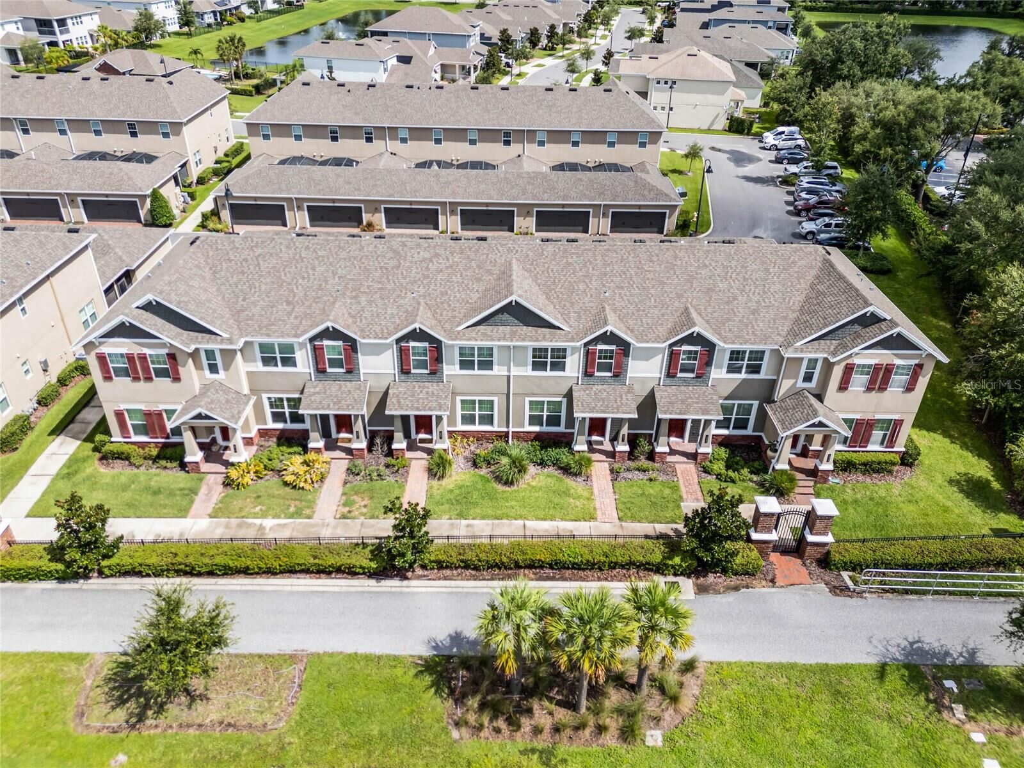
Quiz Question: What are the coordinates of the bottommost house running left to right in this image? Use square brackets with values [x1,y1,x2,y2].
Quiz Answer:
[63,225,954,481]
